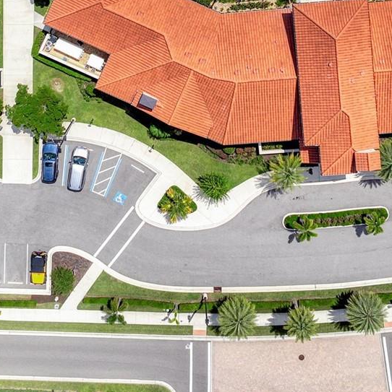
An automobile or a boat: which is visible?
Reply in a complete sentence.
The image shows an automobile.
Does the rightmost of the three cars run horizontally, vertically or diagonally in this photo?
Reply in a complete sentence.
What the image shows is the rightmost of the three cars lying vertically.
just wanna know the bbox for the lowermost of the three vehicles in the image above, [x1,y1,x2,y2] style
[28,253,46,288]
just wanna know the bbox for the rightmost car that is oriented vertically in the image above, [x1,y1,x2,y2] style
[67,148,88,192]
